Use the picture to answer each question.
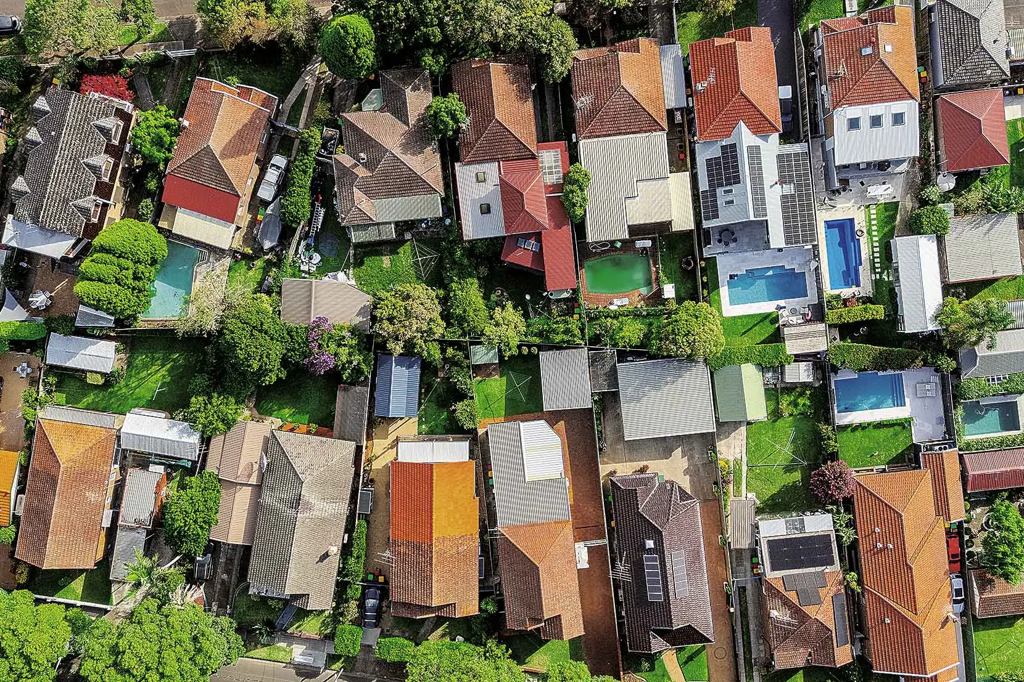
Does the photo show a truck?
Yes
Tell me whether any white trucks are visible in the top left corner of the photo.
Yes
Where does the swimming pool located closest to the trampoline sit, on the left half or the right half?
left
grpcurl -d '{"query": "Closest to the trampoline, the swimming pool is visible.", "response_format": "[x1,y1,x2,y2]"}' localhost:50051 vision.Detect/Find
[133,233,216,324]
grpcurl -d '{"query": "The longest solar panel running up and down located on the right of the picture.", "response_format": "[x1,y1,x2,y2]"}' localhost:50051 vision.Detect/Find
[834,595,849,646]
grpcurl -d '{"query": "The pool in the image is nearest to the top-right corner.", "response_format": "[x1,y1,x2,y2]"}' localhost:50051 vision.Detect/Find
[818,211,869,295]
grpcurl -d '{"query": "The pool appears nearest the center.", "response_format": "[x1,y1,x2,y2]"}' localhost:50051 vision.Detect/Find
[575,242,663,306]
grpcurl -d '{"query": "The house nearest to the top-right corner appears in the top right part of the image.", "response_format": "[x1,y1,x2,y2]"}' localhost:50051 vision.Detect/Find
[923,0,1024,90]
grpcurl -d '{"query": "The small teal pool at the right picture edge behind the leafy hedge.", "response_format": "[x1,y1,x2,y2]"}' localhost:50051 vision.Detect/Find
[955,394,1024,434]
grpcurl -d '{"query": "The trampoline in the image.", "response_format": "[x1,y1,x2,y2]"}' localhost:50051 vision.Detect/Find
[317,234,338,255]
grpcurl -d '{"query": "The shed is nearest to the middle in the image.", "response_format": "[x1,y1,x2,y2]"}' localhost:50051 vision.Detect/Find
[470,344,499,366]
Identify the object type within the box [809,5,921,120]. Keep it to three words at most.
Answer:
house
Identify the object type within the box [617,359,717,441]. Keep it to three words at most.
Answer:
building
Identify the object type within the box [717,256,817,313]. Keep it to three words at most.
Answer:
swimming pool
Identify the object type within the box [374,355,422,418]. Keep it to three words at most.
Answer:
shed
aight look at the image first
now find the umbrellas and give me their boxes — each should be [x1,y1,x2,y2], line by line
[812,254,824,270]
[936,172,955,191]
